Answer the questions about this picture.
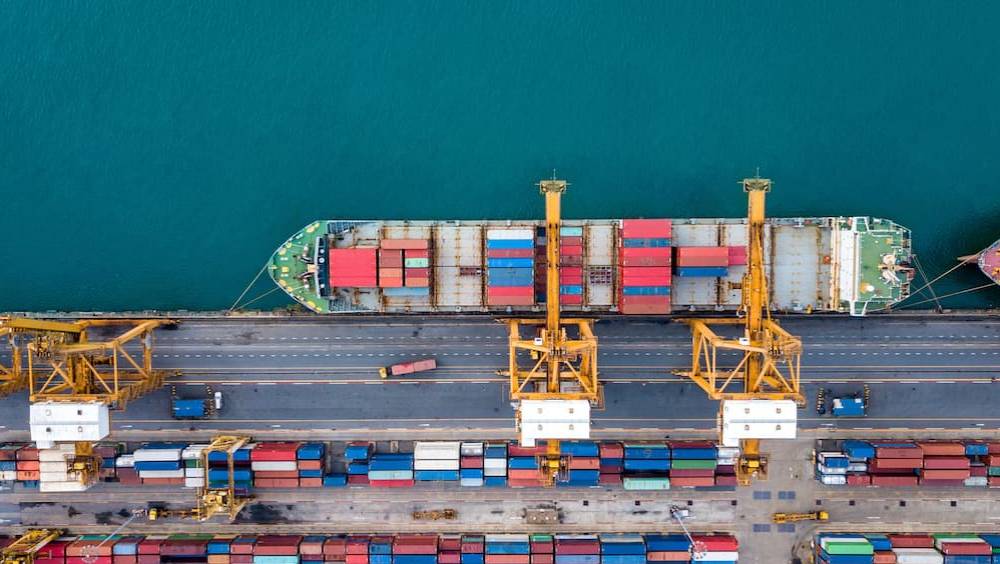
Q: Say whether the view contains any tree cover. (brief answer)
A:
No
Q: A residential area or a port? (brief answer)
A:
port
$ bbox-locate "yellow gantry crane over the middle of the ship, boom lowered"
[490,180,617,487]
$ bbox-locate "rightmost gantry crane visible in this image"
[670,168,814,487]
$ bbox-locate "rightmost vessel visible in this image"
[956,231,1000,289]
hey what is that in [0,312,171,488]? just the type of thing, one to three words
container crane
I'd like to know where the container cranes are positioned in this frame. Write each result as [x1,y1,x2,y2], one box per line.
[0,312,171,488]
[0,323,39,399]
[0,529,60,564]
[200,436,252,525]
[670,168,814,487]
[490,180,617,487]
